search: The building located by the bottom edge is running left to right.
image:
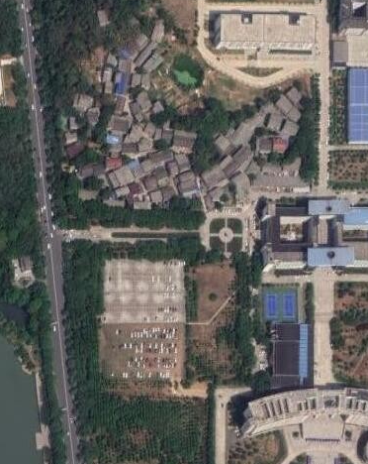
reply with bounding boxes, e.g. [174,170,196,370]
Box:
[238,387,368,442]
